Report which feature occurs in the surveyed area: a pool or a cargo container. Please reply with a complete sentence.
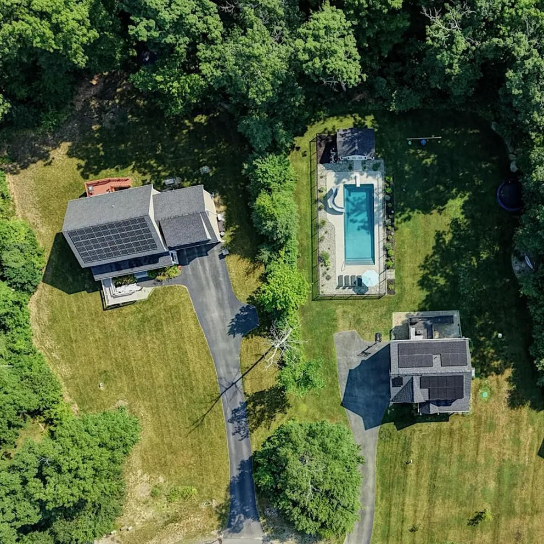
Visible in the photo is a pool.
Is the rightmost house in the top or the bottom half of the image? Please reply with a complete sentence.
The rightmost house sits in the bottom half of the picture.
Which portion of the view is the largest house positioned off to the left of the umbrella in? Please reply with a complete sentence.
The largest house positioned off to the left of the umbrella is in the left part of the image.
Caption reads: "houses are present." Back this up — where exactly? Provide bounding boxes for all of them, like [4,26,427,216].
[390,310,471,414]
[63,177,219,284]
